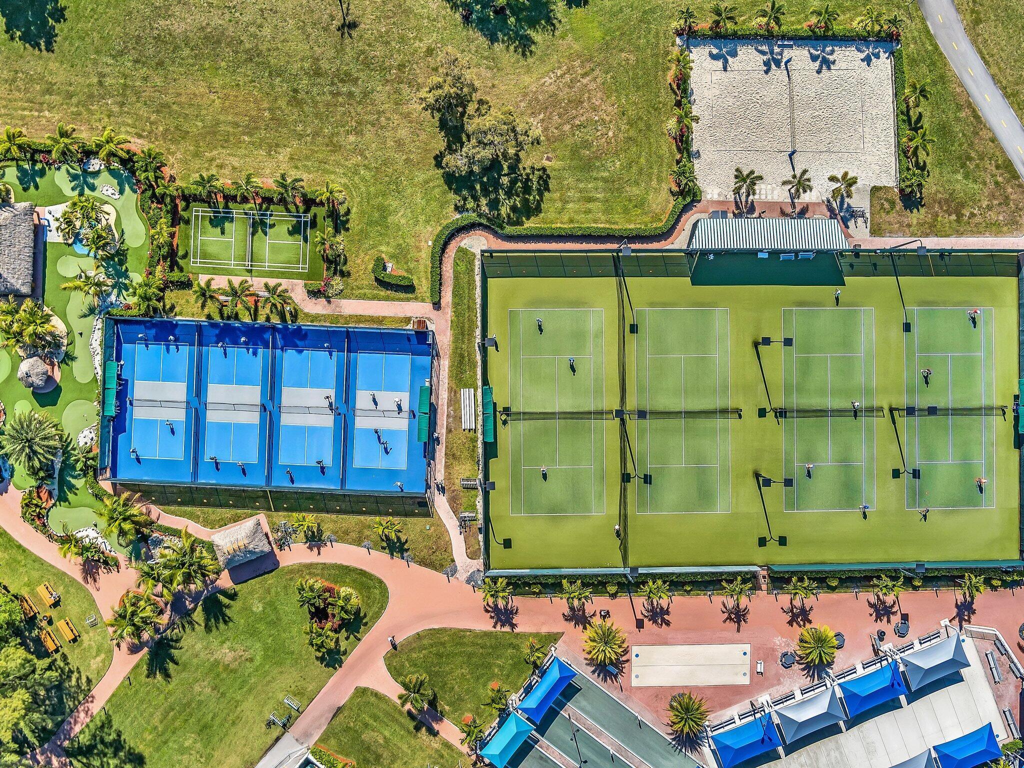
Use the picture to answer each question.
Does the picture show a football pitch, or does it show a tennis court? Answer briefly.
tennis court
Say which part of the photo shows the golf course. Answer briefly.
left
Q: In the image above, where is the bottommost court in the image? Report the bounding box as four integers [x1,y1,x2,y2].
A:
[632,644,751,687]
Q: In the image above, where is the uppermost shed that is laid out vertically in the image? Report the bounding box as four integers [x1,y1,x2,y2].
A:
[0,204,41,296]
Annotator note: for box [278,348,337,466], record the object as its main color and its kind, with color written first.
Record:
blue sports court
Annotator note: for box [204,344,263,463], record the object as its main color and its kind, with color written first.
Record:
blue sports court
